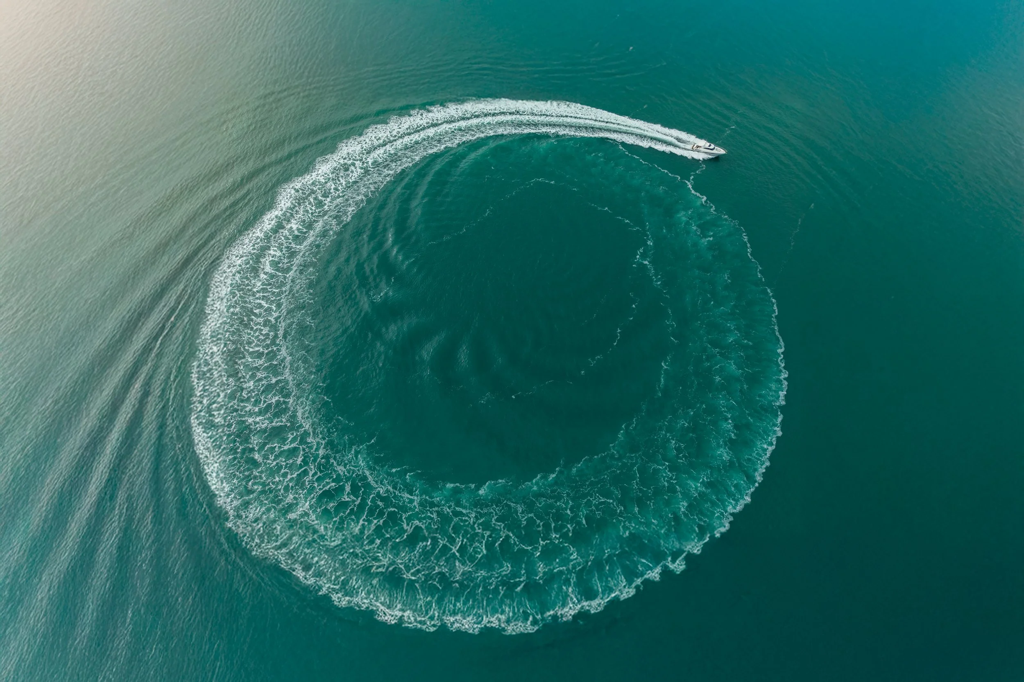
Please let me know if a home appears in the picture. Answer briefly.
No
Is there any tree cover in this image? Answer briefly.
No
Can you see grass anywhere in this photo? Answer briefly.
No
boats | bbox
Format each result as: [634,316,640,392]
[691,140,727,154]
